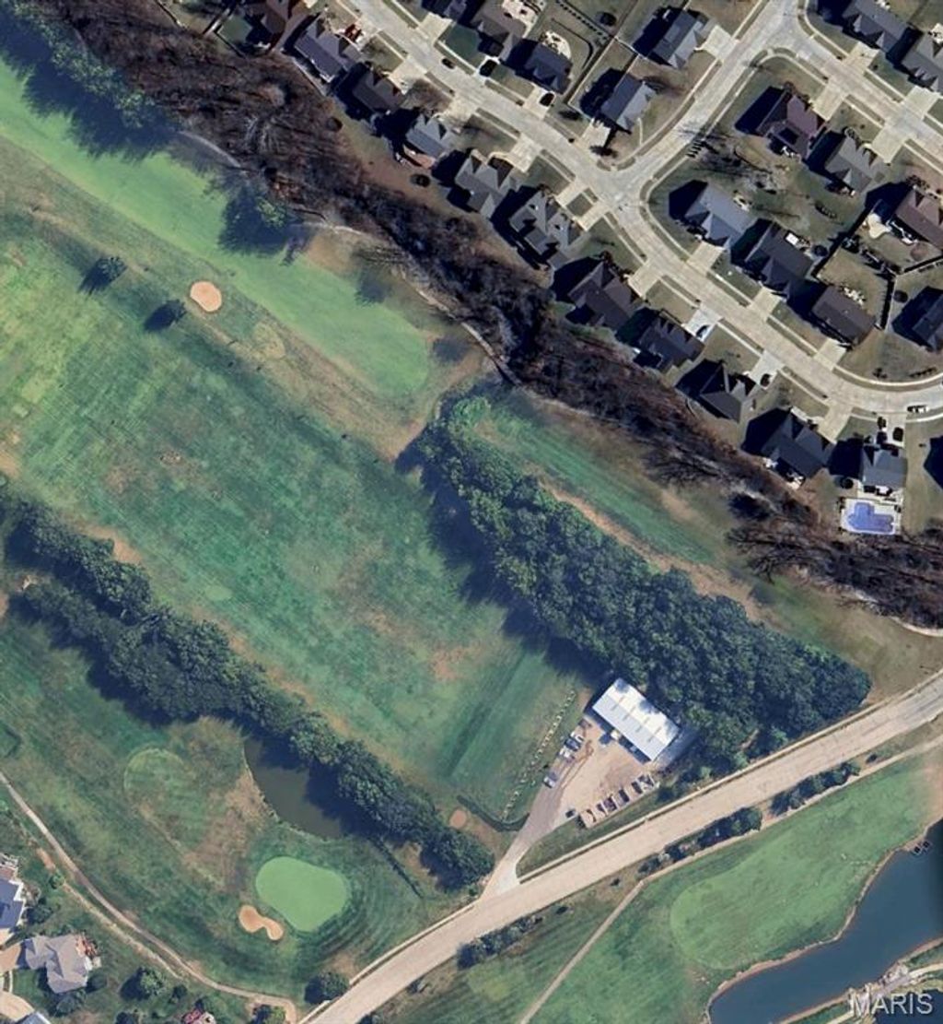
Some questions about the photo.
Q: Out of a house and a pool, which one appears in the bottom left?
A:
house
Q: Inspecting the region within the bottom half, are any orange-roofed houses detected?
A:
No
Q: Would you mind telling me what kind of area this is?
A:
golf course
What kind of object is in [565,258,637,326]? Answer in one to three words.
house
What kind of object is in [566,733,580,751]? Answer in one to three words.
vehicle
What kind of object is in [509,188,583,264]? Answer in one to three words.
house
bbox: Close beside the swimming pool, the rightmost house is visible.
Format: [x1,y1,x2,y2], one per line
[861,445,911,489]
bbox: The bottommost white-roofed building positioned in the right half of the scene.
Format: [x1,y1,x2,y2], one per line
[592,677,681,762]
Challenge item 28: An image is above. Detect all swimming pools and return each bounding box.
[841,499,902,536]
